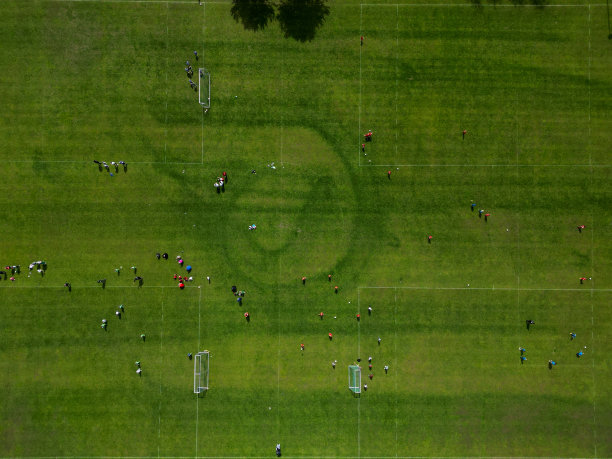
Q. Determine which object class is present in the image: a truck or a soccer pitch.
soccer pitch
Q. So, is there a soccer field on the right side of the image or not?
Yes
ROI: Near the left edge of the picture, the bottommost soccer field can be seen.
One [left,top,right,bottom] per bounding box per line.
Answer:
[0,286,200,458]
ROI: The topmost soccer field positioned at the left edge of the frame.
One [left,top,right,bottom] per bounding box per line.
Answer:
[0,0,205,164]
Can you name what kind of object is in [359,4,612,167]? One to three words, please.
soccer field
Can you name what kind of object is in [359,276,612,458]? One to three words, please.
soccer field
